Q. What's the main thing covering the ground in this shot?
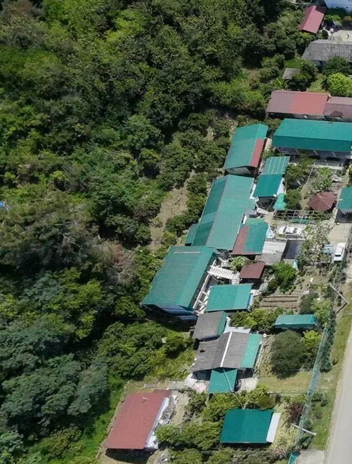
trees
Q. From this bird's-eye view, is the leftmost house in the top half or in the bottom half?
bottom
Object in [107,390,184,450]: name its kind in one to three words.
house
